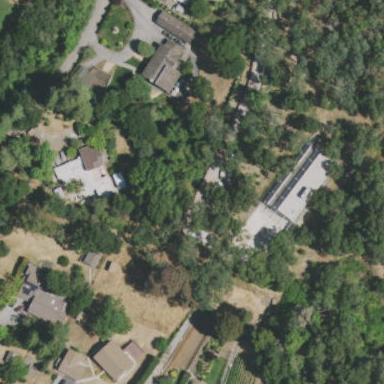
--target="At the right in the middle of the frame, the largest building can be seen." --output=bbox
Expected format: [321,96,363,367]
[278,153,330,222]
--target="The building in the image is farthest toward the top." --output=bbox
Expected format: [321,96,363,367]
[156,9,196,42]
